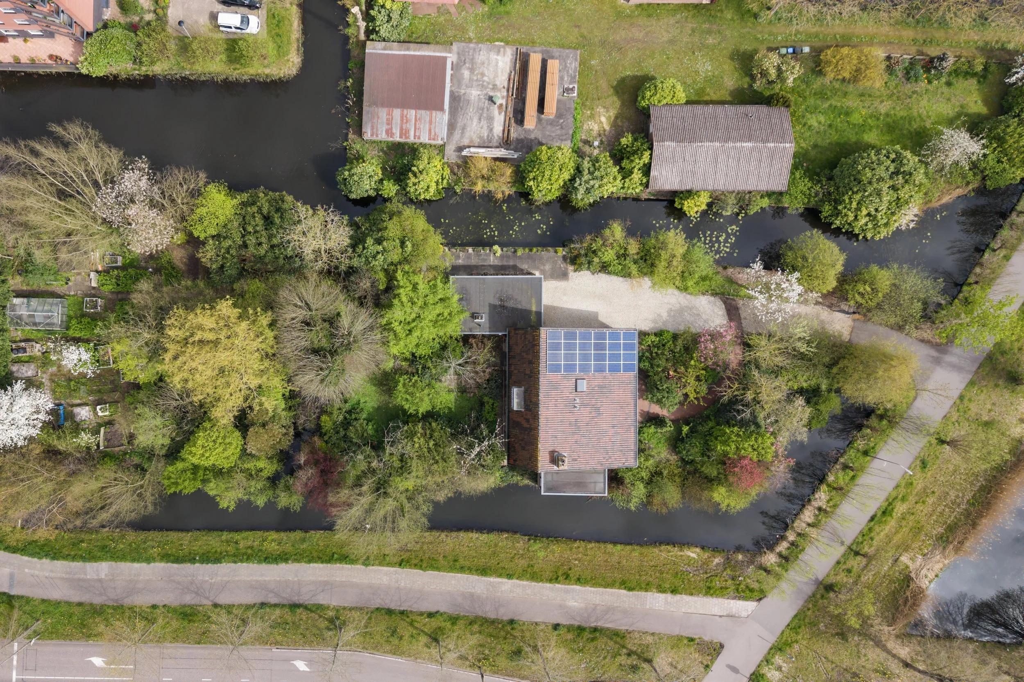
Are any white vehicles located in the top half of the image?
Yes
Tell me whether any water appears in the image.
Yes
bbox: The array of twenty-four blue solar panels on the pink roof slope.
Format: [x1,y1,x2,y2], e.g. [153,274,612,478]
[548,330,637,373]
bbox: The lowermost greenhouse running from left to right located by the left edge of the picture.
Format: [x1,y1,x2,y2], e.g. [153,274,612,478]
[0,298,66,329]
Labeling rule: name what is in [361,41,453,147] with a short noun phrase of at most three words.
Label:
barn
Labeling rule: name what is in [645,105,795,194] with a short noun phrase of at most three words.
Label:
shed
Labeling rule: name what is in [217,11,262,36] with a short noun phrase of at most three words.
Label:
car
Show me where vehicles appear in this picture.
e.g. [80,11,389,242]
[217,11,262,36]
[219,0,263,15]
